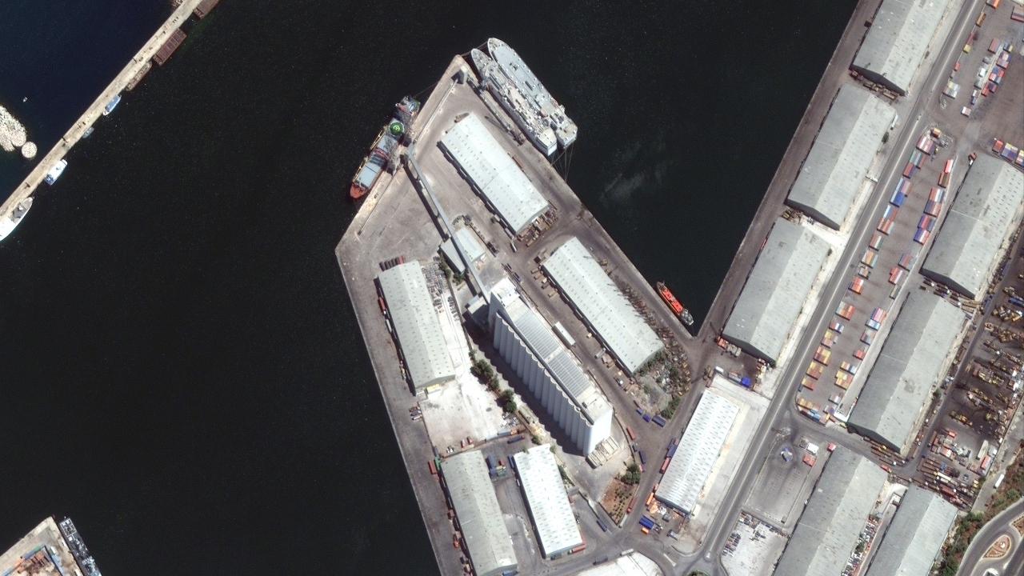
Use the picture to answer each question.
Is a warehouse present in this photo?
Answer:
Yes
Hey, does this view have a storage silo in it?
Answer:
Yes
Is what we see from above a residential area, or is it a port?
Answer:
port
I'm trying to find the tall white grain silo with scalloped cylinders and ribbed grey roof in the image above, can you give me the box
[489,277,617,458]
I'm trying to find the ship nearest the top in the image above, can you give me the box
[194,0,222,21]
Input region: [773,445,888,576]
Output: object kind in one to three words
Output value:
warehouse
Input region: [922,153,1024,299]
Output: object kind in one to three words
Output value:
building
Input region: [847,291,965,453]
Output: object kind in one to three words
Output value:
warehouse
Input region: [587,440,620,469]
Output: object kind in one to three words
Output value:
shed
